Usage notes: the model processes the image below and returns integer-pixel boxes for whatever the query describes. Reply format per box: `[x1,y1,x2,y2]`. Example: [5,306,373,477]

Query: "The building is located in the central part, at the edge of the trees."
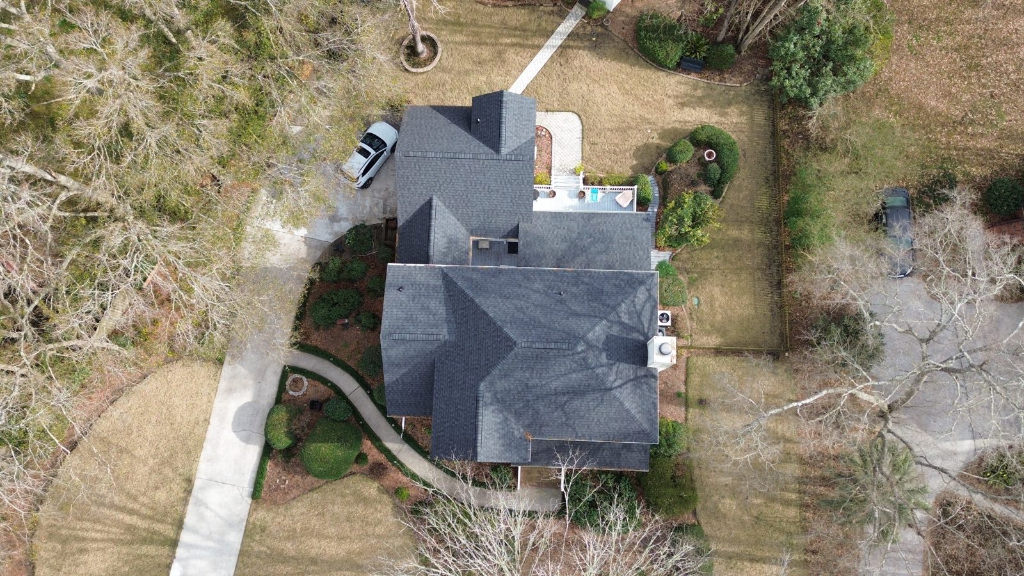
[381,88,680,489]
